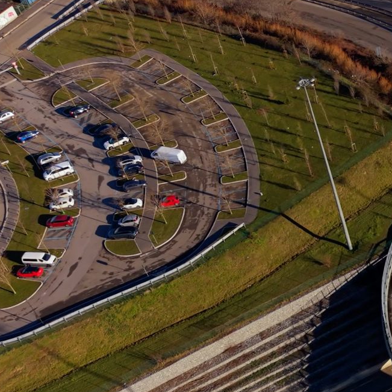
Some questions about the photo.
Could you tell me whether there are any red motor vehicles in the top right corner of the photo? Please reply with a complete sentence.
No, the scene shows no red motor vehicle in the top right corner of the photo.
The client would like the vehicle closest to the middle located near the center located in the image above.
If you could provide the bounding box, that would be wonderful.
[158,193,182,208]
